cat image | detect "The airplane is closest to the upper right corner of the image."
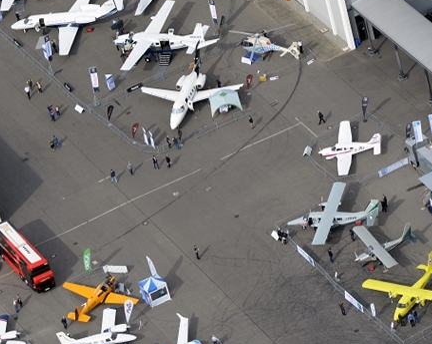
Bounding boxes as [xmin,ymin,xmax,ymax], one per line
[318,122,380,174]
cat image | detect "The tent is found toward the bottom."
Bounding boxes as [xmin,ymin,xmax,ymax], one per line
[140,268,171,302]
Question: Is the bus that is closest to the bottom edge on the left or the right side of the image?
left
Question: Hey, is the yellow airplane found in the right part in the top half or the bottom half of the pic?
bottom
